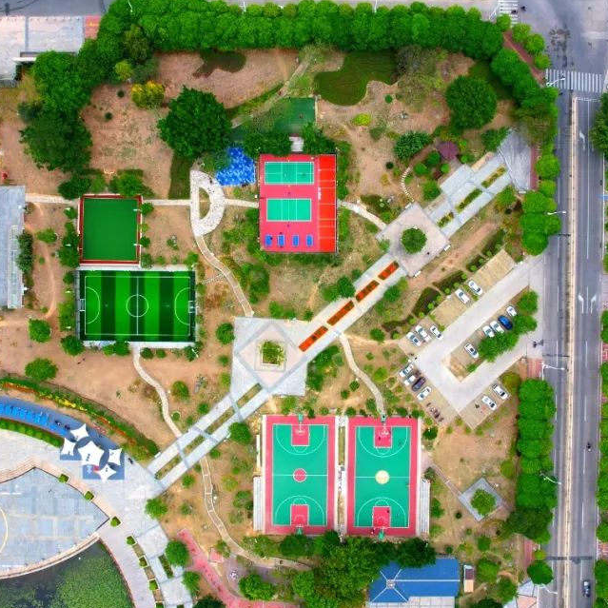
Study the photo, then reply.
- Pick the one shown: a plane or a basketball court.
basketball court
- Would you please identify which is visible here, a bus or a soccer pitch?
soccer pitch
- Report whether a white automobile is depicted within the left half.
No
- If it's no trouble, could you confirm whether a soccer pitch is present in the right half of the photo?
No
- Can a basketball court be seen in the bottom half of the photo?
Yes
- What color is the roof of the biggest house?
blue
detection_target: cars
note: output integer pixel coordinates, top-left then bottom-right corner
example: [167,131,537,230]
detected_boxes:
[398,362,414,379]
[416,385,432,401]
[505,304,520,319]
[482,394,497,411]
[402,373,417,387]
[492,382,509,399]
[406,330,422,347]
[468,279,484,296]
[489,319,502,332]
[410,375,426,392]
[498,314,514,327]
[414,325,430,341]
[481,323,494,336]
[428,324,444,341]
[464,342,481,359]
[453,288,471,304]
